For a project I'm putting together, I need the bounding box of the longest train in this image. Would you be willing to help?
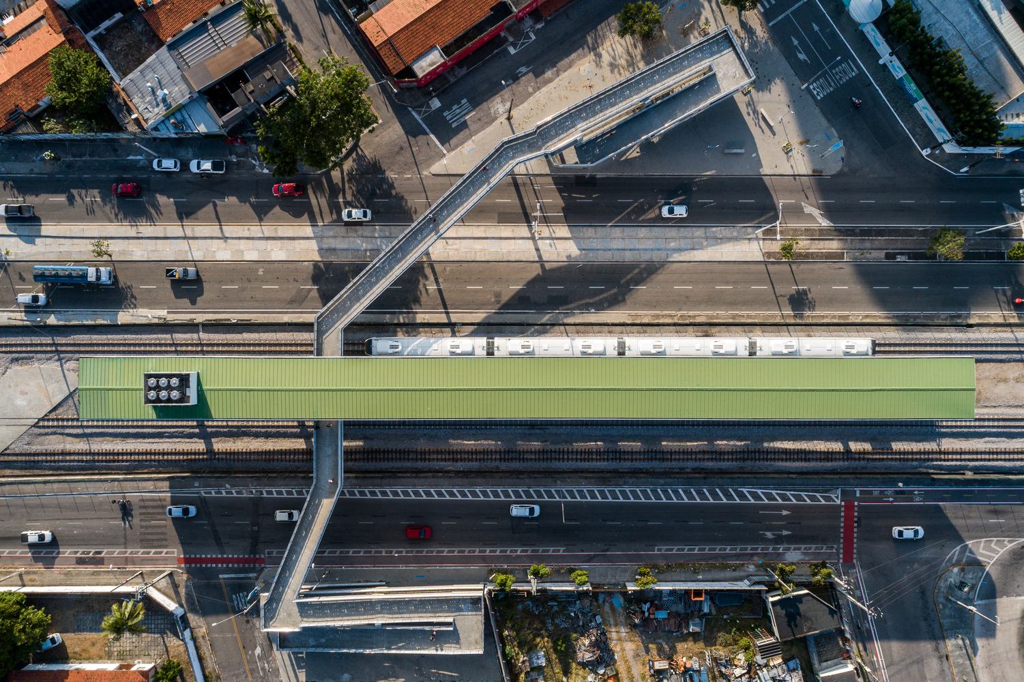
[372,339,871,356]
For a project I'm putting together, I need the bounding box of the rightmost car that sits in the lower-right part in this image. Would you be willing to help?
[890,525,923,540]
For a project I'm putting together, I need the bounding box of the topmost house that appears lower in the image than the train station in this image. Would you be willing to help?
[760,583,842,642]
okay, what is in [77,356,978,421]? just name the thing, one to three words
train station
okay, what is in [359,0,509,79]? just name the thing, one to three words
house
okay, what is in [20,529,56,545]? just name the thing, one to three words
vehicle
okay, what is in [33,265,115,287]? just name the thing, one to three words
truck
